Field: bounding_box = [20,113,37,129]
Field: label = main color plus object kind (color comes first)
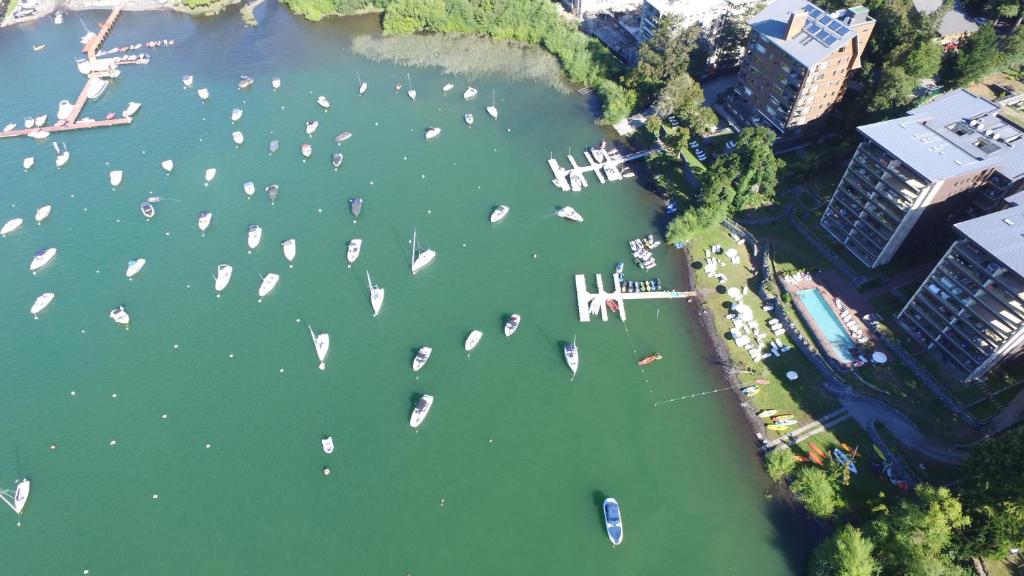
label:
white boat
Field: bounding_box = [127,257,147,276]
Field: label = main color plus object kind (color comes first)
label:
white boat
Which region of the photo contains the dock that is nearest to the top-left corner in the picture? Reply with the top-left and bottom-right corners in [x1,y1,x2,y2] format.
[0,4,150,140]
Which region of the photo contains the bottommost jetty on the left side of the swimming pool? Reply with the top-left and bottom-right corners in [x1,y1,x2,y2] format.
[575,274,694,323]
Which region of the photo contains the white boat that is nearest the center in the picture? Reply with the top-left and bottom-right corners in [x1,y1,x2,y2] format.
[505,309,523,335]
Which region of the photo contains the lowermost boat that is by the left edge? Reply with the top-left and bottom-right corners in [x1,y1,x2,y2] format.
[0,478,33,512]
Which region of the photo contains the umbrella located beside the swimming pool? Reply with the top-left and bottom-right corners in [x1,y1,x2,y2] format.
[869,351,885,365]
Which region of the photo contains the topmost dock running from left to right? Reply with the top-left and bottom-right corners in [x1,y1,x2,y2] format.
[548,144,653,193]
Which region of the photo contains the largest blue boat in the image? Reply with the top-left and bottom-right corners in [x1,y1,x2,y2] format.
[603,496,622,544]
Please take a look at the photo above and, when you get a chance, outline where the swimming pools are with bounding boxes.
[780,269,874,370]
